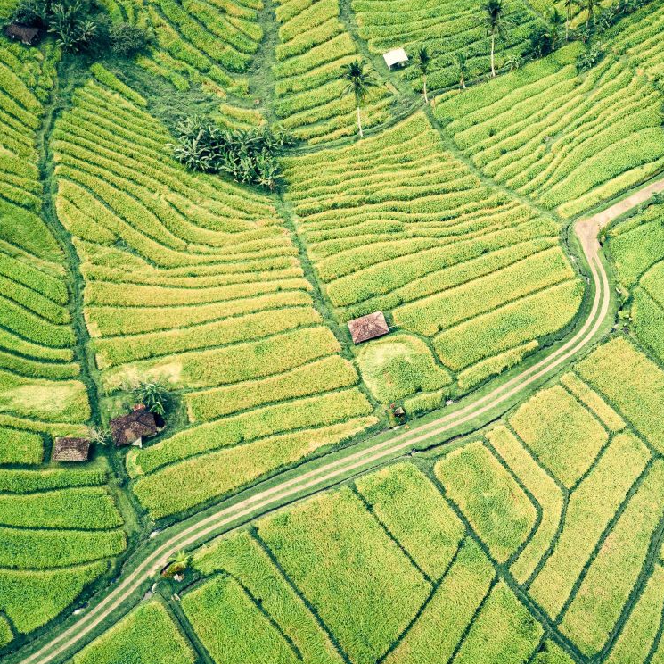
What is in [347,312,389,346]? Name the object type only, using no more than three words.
shed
